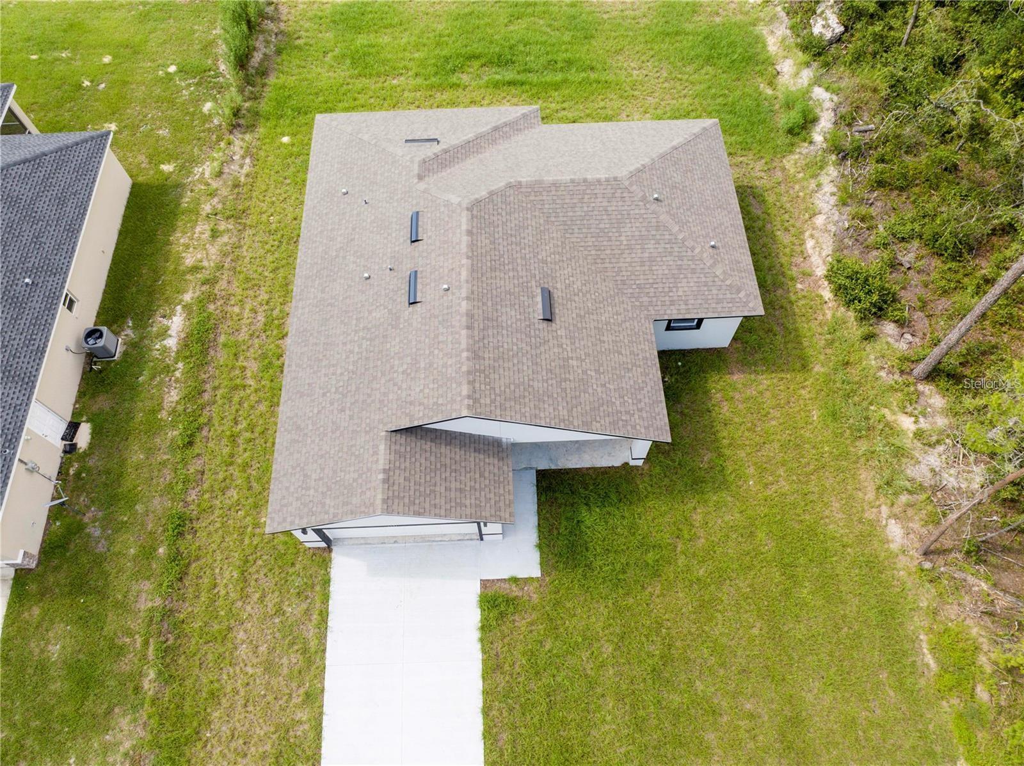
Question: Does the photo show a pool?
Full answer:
No, there isn't any pool down there.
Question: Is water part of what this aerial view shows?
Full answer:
No, the scene doesn't show any water.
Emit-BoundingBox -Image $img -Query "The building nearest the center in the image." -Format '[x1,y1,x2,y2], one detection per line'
[267,105,767,550]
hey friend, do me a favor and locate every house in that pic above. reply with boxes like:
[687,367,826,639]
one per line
[267,105,767,550]
[0,83,133,570]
